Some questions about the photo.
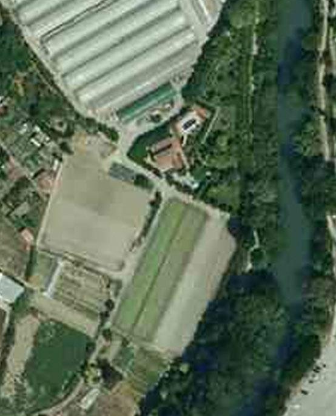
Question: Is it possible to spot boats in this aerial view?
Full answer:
No, there's no boat here.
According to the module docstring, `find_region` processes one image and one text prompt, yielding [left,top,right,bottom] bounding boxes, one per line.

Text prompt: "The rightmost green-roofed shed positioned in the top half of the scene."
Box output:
[117,84,178,122]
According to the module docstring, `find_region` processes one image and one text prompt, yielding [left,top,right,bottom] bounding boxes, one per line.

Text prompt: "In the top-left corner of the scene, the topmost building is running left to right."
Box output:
[11,0,108,39]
